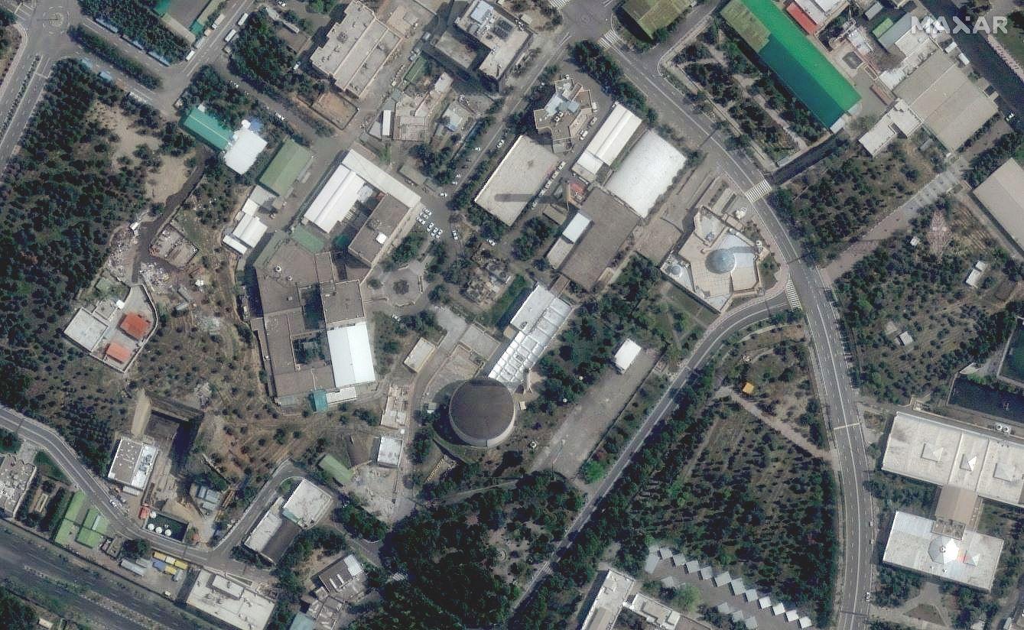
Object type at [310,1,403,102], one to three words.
building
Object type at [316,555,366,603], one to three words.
house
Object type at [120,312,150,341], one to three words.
house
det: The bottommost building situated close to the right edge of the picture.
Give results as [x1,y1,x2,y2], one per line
[883,512,1002,595]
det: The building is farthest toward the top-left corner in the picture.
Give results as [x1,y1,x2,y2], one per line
[154,0,223,46]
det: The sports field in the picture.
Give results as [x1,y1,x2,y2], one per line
[1000,321,1024,381]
